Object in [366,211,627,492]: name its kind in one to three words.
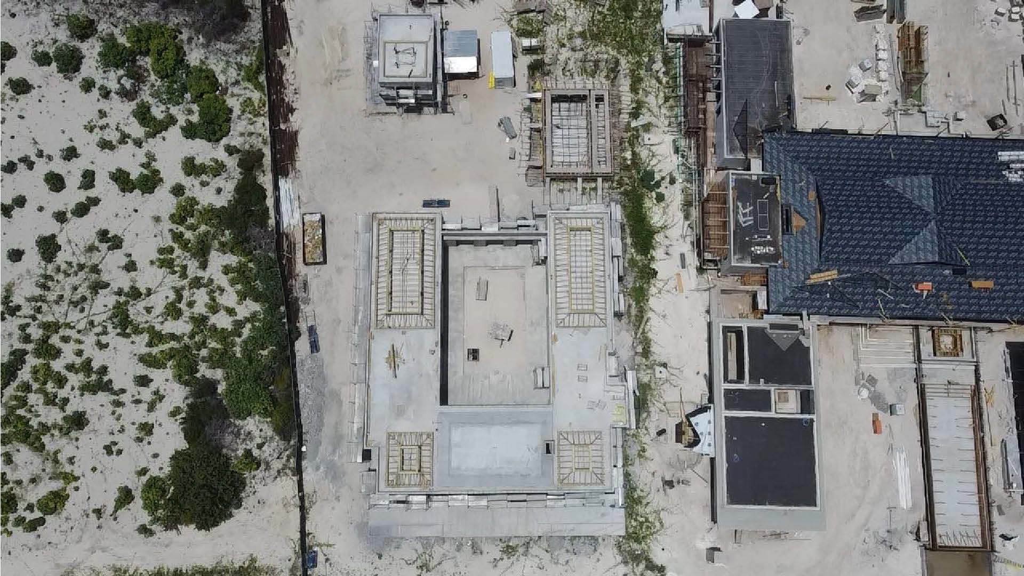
building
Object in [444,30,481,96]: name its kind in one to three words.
shed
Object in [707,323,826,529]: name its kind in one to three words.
building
